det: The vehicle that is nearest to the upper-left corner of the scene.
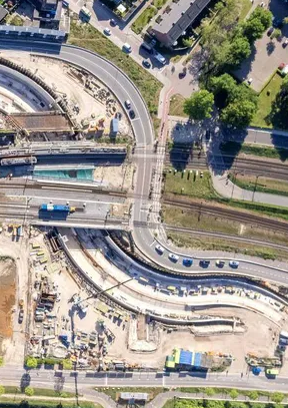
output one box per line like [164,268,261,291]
[79,3,93,19]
